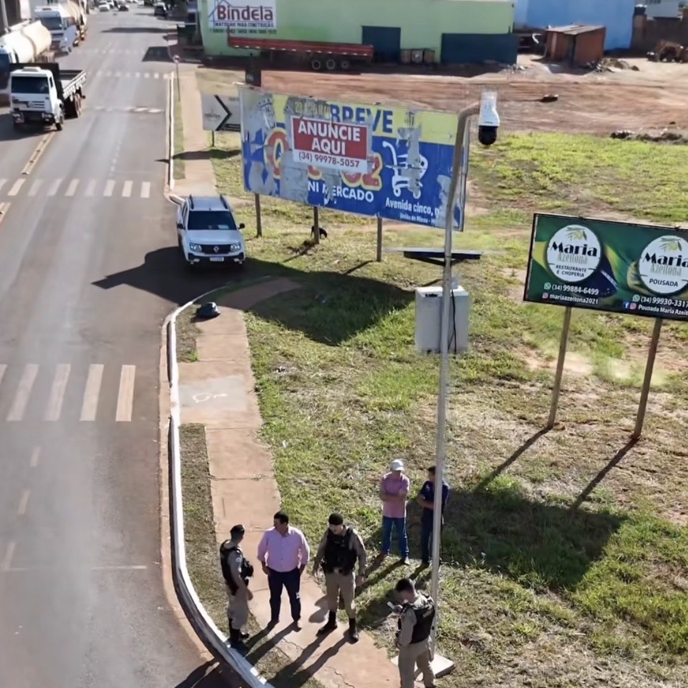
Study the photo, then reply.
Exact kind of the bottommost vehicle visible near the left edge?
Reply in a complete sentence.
The bottommost vehicle visible near the left edge is a truck.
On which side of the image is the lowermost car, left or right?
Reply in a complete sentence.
The lowermost car sits on the left side.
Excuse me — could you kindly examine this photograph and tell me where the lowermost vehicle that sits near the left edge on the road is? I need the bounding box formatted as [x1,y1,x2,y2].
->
[2,64,86,126]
